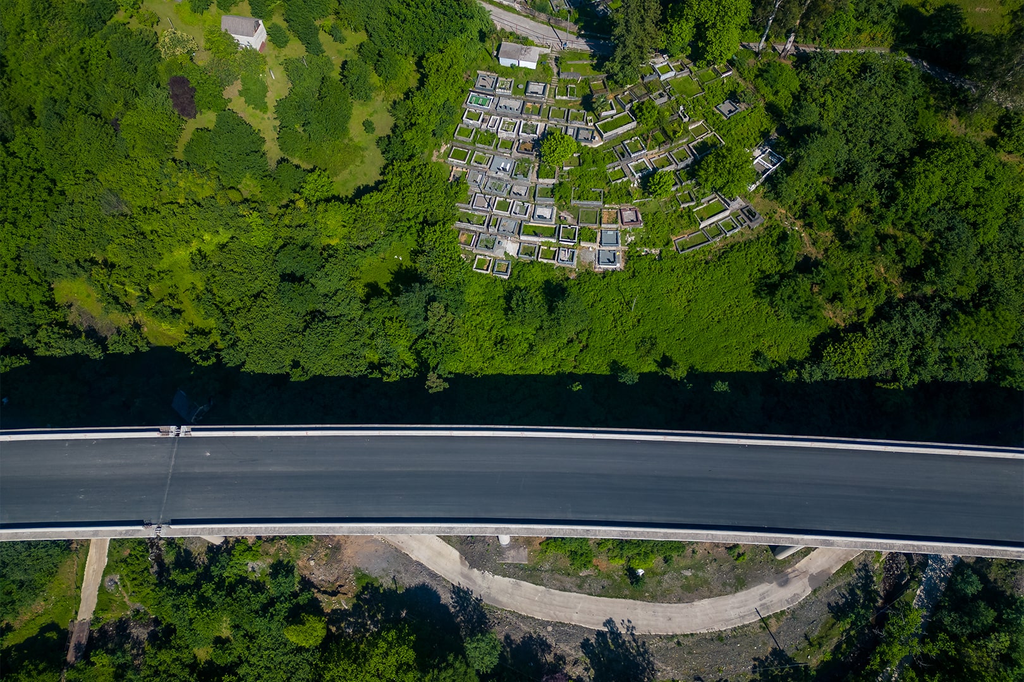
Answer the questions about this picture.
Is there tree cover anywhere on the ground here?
Yes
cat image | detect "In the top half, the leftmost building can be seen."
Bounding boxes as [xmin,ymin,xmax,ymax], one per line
[222,16,264,49]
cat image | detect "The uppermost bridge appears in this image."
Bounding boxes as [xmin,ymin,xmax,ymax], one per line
[0,425,1024,566]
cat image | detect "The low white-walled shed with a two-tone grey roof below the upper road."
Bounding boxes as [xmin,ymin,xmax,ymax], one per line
[499,40,548,69]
